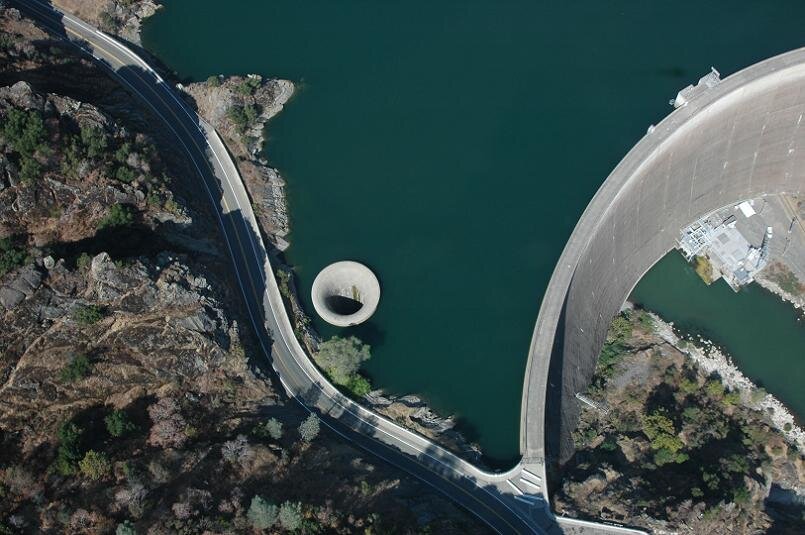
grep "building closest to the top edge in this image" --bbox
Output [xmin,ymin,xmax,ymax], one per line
[697,58,728,97]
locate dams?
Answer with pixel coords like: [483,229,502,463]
[519,46,805,468]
